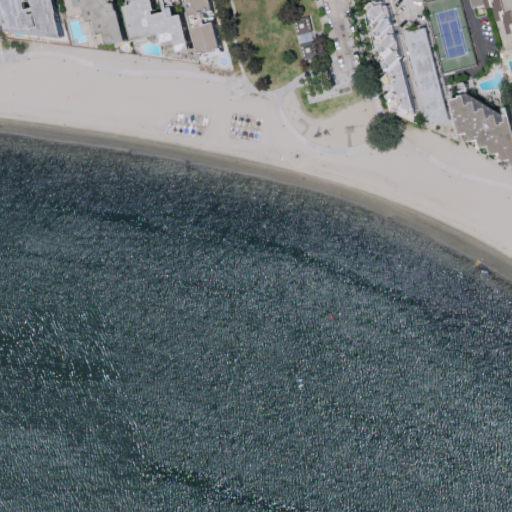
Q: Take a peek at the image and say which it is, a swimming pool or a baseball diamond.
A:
swimming pool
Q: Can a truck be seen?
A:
No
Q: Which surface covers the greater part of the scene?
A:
water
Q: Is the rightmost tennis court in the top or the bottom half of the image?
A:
top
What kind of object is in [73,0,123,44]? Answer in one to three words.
house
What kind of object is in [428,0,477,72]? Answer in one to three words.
tennis court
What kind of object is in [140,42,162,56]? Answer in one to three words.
swimming pool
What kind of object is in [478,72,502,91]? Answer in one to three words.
swimming pool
